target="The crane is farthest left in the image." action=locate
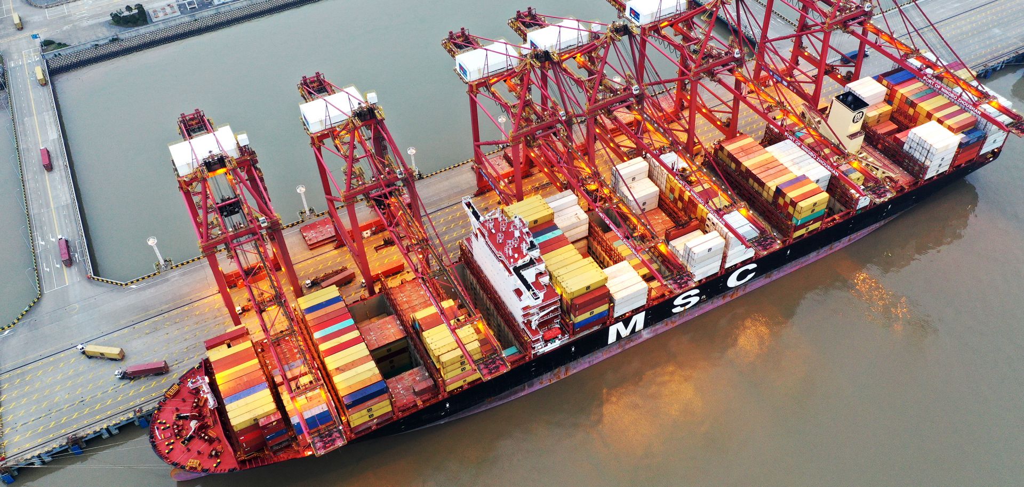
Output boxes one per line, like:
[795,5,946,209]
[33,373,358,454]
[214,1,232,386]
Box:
[166,110,354,463]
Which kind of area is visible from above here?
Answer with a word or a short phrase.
port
